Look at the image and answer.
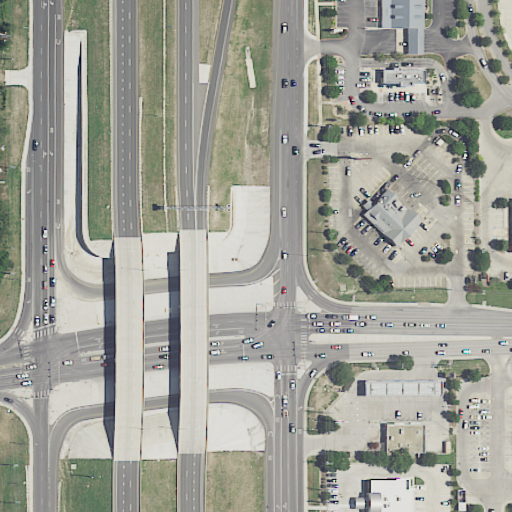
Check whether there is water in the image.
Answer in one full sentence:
No, there is no water in the image.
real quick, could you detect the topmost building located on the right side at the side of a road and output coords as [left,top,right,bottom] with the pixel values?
[382,0,426,54]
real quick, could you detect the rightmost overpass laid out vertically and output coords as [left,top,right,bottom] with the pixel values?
[178,230,207,456]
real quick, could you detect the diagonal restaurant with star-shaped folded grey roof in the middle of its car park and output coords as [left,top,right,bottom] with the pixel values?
[366,190,420,244]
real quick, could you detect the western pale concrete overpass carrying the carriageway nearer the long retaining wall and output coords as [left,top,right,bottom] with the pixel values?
[112,237,142,462]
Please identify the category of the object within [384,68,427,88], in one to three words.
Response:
building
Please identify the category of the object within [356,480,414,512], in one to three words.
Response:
building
